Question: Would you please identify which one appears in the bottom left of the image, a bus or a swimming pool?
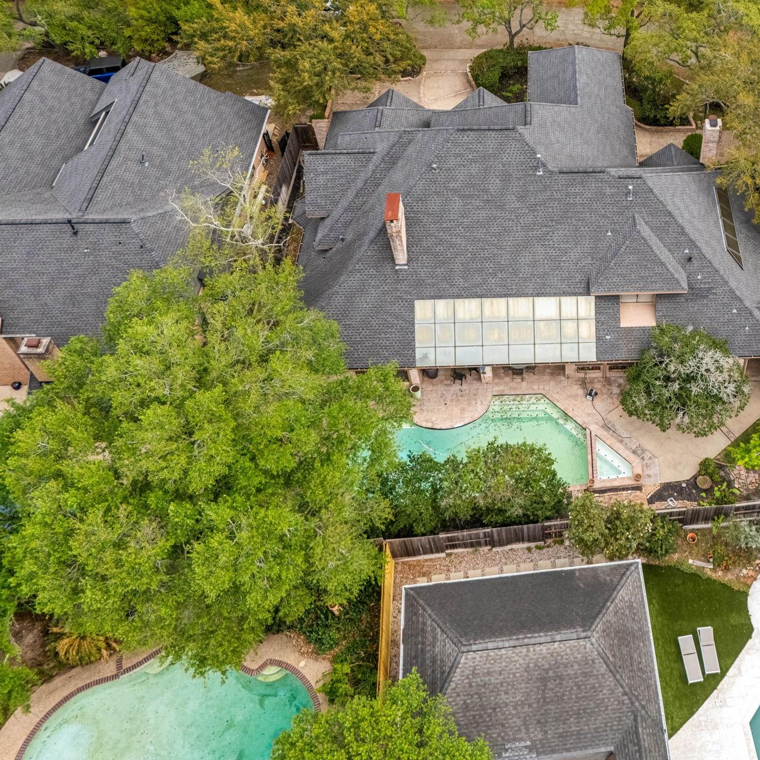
swimming pool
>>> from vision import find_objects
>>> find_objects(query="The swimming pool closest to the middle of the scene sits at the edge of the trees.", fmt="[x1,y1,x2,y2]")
[354,394,588,505]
